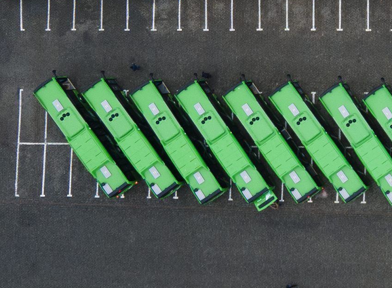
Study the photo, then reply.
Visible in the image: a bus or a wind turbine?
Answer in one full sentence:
Of the two, only a bus appears.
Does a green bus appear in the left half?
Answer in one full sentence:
Yes, you'll find a green bus in the left half.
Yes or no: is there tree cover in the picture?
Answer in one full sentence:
No, the scene doesn't show any tree cover.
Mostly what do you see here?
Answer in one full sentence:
What you mostly see from above here is paved ground.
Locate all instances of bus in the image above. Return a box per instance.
[172,71,282,213]
[266,71,376,204]
[32,68,146,200]
[80,69,189,200]
[220,71,330,206]
[359,75,392,140]
[316,73,392,204]
[128,71,236,206]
